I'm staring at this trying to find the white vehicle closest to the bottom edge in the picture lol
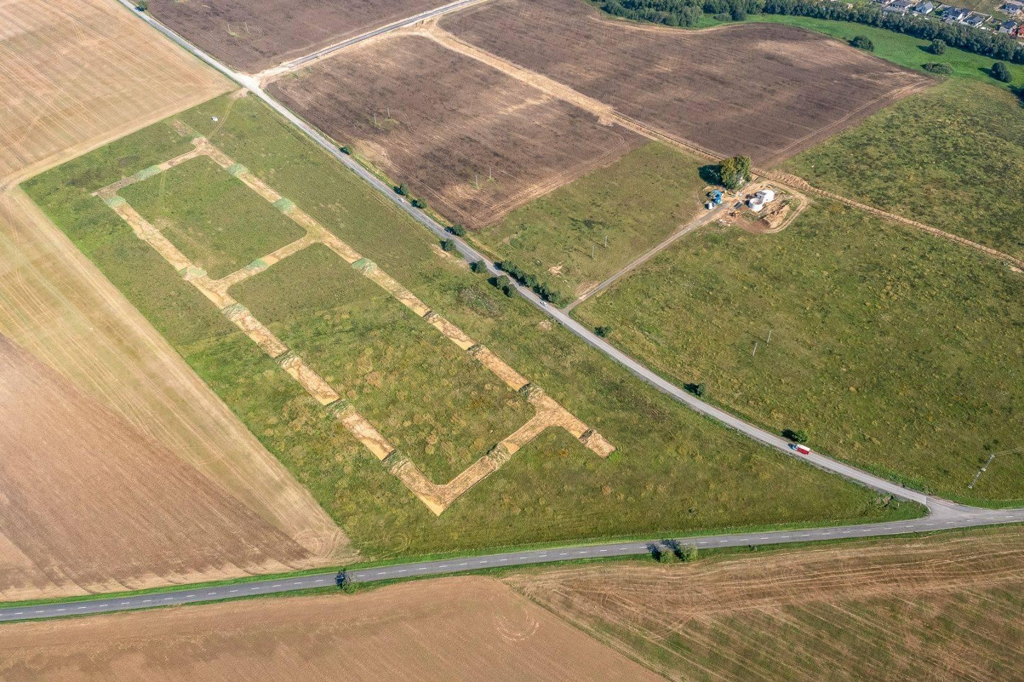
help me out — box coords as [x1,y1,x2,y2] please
[792,442,810,454]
